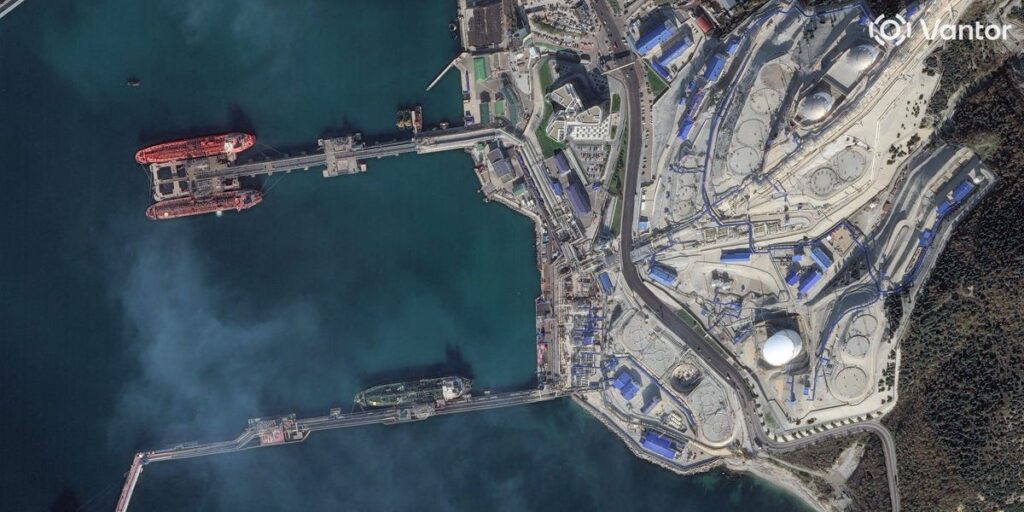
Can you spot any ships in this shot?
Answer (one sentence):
Yes, looking at the shot, I can spot a ship.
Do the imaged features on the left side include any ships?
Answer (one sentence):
Yes, I can see a ship on the left side.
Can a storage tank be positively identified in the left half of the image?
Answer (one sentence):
No, looking in the left half of the image, there is no storage tank.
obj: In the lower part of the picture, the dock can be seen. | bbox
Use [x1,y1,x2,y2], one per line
[112,386,567,512]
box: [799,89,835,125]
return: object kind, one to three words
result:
storage tank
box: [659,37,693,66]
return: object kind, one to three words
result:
building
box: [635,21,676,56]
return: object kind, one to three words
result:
building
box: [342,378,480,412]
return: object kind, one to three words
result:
ship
